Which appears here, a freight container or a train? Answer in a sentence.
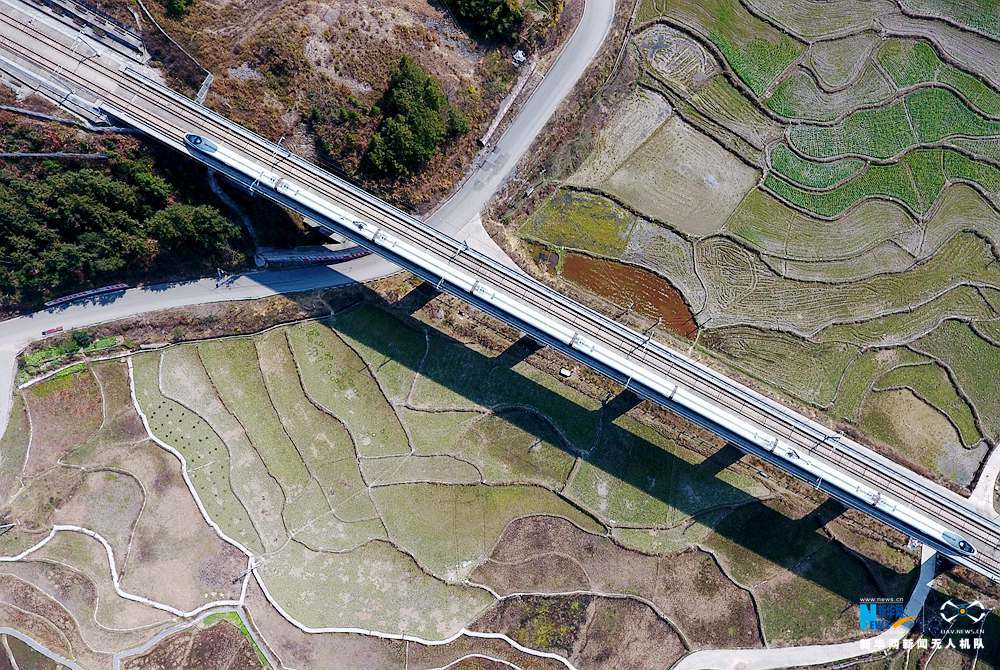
Visible in the photo is a train.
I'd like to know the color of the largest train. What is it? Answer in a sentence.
The largest train is white.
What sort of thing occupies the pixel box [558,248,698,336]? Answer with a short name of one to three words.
pond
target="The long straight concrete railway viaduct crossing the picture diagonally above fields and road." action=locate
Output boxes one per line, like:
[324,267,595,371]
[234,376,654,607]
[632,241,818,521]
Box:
[94,60,1000,586]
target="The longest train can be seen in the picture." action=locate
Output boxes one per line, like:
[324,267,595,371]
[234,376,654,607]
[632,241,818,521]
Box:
[184,134,973,554]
